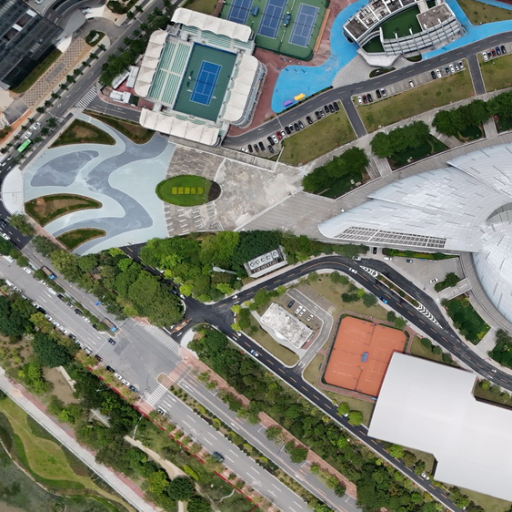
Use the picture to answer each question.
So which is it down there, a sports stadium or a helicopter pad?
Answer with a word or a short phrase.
sports stadium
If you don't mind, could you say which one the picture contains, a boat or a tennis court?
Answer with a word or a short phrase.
tennis court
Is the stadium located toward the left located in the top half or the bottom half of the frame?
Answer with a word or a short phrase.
top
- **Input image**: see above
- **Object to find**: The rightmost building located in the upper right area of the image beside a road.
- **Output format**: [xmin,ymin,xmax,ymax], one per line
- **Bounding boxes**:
[344,0,465,67]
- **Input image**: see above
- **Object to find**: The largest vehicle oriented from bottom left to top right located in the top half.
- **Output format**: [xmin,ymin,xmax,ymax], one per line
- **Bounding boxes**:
[10,135,33,155]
